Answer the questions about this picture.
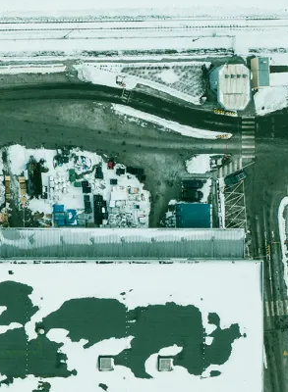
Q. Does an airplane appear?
No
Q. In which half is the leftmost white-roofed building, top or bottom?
top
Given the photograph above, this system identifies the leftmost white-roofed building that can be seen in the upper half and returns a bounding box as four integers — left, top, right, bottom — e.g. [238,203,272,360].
[203,63,250,112]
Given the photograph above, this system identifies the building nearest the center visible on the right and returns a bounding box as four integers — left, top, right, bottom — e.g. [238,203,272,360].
[171,204,211,227]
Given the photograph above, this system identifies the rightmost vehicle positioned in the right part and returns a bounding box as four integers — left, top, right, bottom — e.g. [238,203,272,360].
[221,170,247,185]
